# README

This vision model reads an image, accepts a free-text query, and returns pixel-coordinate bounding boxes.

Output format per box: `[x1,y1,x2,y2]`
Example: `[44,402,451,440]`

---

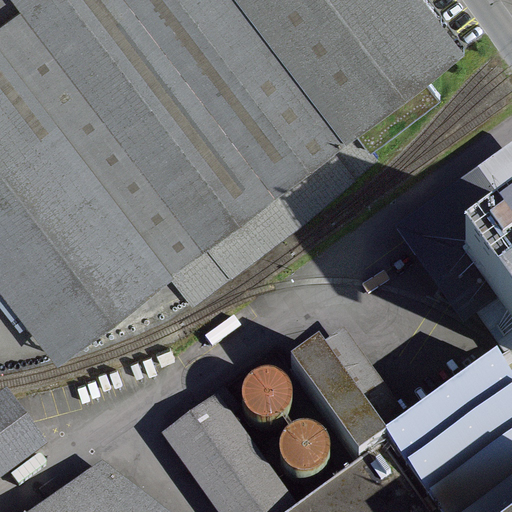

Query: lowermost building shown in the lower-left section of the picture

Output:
[24,460,155,512]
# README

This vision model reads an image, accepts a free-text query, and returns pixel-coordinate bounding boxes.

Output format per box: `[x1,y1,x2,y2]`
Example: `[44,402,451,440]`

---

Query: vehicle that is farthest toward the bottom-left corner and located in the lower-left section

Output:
[11,450,49,486]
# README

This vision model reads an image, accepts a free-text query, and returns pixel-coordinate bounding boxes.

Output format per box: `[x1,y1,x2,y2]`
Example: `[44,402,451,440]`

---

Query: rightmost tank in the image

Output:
[279,421,331,482]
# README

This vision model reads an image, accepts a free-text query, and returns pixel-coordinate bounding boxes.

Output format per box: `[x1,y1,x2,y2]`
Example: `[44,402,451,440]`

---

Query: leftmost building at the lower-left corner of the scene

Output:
[0,388,48,482]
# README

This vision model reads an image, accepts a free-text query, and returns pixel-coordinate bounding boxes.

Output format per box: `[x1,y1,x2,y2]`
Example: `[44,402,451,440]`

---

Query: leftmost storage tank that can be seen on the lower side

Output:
[242,367,294,430]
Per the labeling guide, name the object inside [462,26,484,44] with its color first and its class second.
white car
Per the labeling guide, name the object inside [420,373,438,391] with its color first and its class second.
black car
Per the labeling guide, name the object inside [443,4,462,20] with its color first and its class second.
white car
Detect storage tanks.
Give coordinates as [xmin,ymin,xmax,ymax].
[242,367,294,430]
[279,421,331,482]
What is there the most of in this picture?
buildings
